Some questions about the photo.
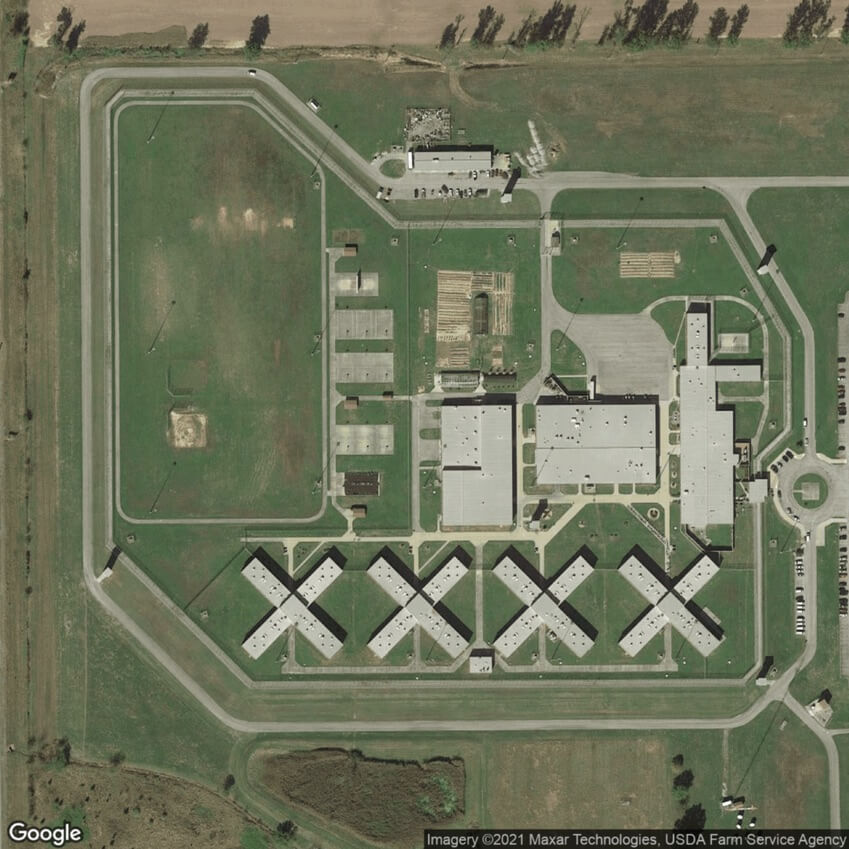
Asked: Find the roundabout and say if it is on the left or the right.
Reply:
right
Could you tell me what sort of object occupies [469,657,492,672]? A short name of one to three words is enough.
building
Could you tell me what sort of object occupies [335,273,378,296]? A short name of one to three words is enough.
sports court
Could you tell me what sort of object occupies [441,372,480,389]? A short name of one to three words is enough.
greenhouse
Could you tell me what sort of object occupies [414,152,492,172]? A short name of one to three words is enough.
building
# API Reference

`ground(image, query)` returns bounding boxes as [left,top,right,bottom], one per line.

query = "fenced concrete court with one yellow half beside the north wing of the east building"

[719,334,749,352]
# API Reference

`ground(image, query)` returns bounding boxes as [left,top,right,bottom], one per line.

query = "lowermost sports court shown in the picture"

[335,425,394,455]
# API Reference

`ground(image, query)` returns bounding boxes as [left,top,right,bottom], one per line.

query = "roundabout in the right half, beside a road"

[776,454,849,527]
